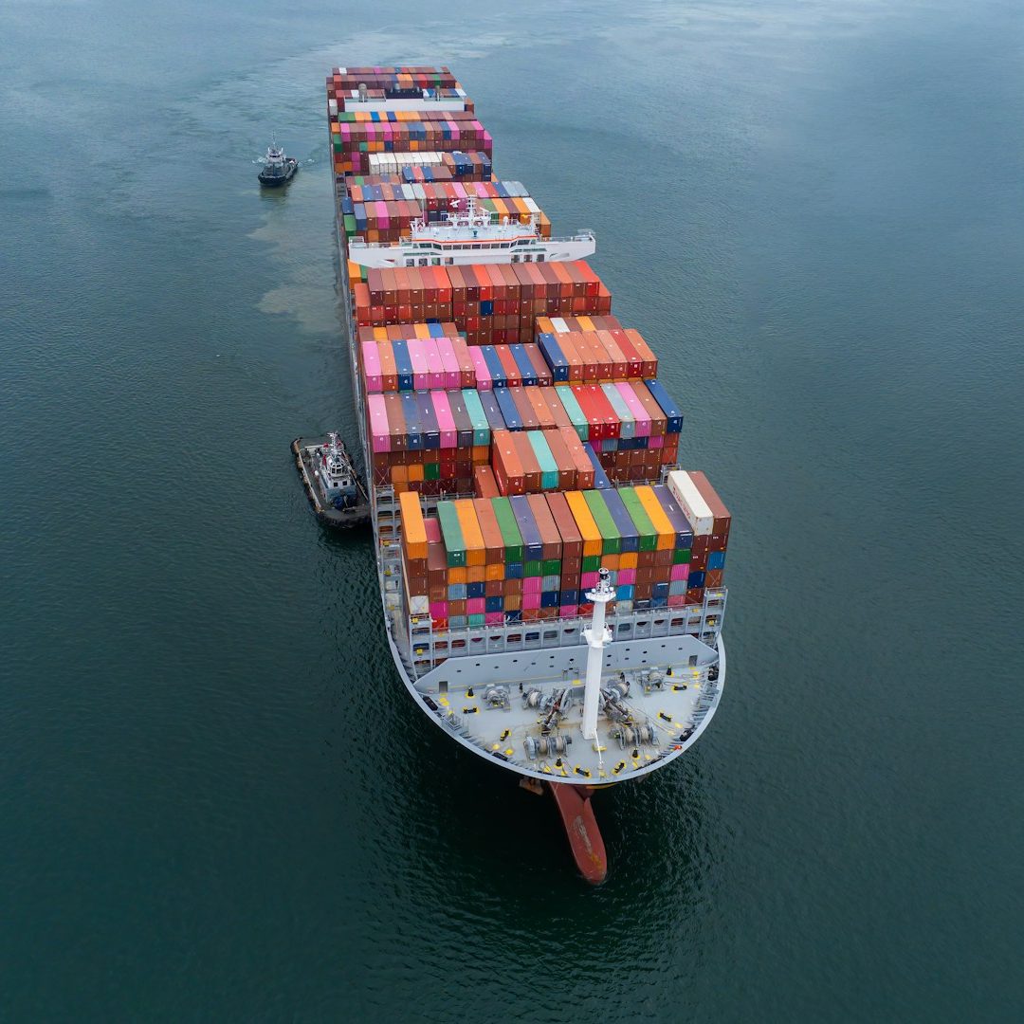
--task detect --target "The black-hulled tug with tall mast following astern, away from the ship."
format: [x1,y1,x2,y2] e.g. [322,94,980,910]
[260,125,305,190]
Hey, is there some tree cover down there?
No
